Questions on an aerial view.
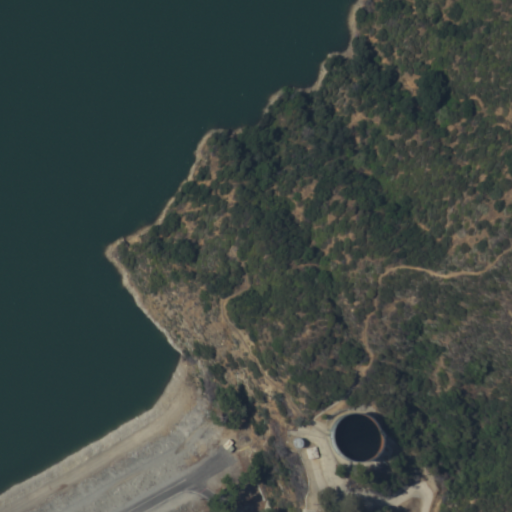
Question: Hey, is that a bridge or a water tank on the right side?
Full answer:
Visible on the right side is a water tank.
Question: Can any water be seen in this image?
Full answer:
Yes, water shows up in the scene.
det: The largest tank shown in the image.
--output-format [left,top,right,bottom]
[328,408,384,464]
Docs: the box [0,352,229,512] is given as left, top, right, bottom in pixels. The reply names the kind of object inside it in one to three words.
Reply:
dam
